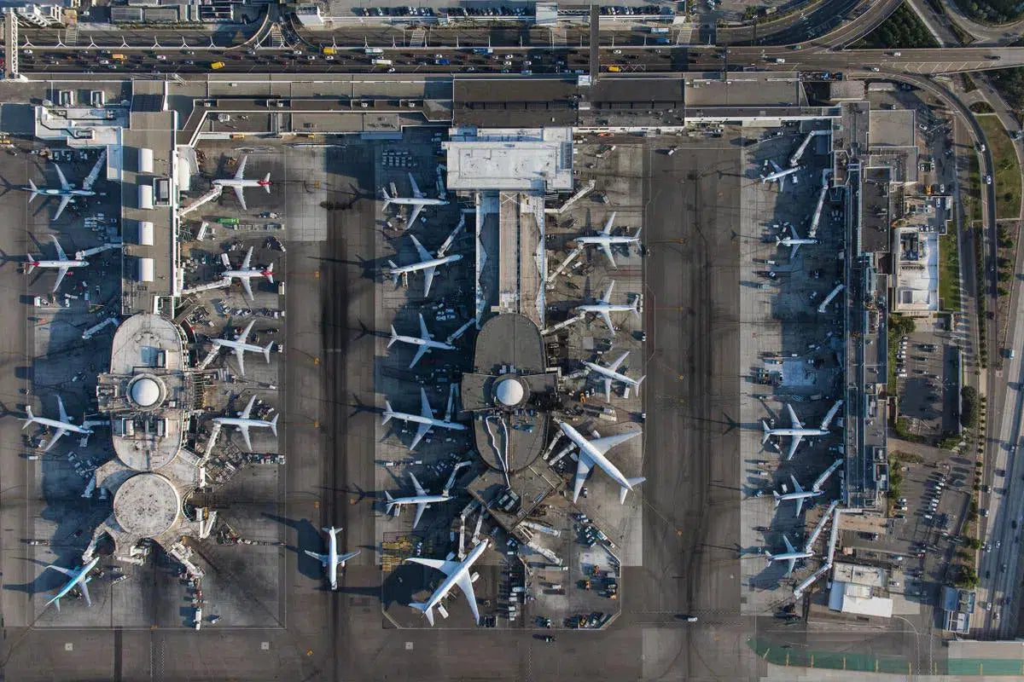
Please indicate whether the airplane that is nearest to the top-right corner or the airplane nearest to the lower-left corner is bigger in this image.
the airplane nearest to the lower-left corner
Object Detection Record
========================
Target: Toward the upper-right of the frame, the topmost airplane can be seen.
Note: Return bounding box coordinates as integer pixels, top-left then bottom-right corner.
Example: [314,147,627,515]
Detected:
[759,157,804,192]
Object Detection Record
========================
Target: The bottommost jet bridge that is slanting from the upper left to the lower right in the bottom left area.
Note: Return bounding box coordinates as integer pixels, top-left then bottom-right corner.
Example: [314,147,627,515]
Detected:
[169,548,209,583]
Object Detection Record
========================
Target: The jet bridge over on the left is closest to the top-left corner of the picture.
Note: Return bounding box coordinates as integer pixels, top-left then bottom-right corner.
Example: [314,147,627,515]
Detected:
[80,148,106,195]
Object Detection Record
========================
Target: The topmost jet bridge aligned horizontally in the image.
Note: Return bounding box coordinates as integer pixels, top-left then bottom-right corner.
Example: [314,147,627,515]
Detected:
[71,243,121,260]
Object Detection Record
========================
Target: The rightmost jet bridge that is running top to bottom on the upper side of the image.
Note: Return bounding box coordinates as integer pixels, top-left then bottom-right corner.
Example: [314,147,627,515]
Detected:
[806,168,832,242]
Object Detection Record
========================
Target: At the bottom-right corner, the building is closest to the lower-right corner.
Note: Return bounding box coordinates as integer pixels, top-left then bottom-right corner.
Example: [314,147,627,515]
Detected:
[937,584,976,634]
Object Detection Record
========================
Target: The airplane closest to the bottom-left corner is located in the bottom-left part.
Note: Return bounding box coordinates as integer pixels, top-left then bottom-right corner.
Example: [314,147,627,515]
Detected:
[38,557,100,613]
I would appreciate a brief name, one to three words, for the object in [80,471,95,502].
jet bridge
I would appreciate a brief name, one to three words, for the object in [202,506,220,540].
jet bridge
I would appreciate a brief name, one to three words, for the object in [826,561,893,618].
building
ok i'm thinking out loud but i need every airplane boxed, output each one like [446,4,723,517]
[764,535,802,579]
[385,234,463,296]
[759,157,804,192]
[584,349,645,401]
[383,173,449,229]
[21,395,94,453]
[26,162,96,222]
[213,155,274,210]
[379,389,466,451]
[389,313,456,369]
[764,404,830,461]
[574,211,640,268]
[575,281,639,336]
[211,318,273,375]
[23,233,89,293]
[774,473,824,519]
[306,523,361,590]
[222,246,276,301]
[560,423,647,505]
[385,473,453,529]
[776,224,821,260]
[38,557,100,613]
[213,393,278,452]
[408,539,488,627]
